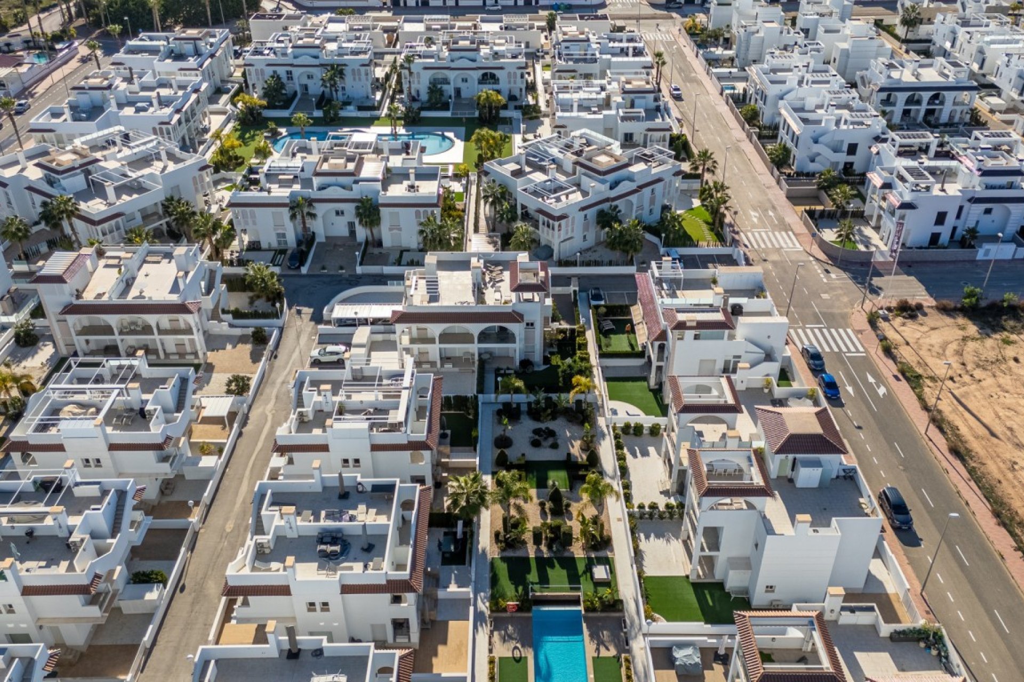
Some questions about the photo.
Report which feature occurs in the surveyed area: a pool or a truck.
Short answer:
pool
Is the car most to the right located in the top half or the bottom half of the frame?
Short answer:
bottom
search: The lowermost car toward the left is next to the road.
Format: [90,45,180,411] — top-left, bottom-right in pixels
[309,344,349,365]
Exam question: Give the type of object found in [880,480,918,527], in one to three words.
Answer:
car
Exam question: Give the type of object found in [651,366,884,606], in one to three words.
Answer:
house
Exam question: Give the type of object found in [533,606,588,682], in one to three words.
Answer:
swimming pool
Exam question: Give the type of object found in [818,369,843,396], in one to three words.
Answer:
car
